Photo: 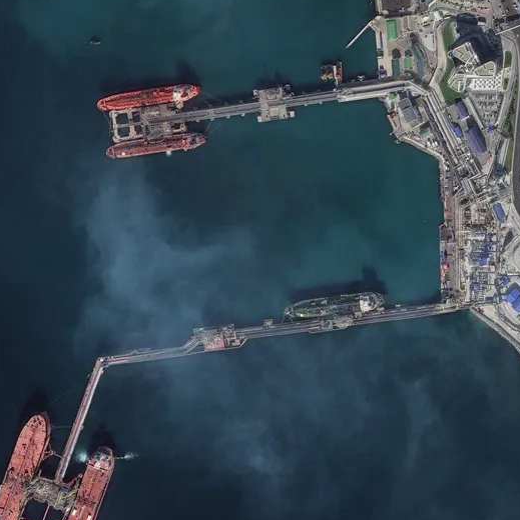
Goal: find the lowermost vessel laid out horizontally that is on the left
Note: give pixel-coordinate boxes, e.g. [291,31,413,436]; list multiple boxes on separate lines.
[106,133,209,158]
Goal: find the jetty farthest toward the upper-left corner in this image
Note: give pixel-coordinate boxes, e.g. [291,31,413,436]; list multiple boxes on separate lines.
[156,90,339,124]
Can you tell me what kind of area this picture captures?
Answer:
port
